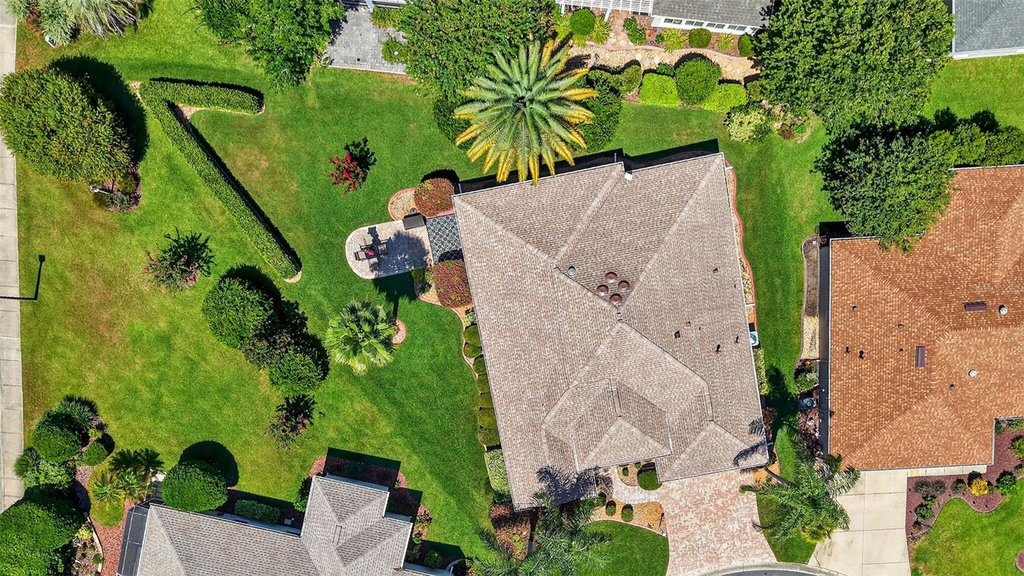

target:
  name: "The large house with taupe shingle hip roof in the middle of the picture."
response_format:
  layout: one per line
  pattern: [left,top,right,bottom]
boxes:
[452,152,770,511]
